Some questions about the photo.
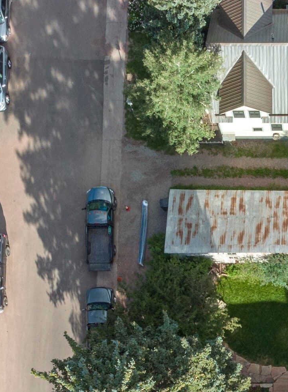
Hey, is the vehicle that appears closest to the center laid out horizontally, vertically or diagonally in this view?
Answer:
vertically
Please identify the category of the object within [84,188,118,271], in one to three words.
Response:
vehicle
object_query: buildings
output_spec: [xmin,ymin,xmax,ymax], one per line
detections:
[206,0,288,139]
[165,189,288,257]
